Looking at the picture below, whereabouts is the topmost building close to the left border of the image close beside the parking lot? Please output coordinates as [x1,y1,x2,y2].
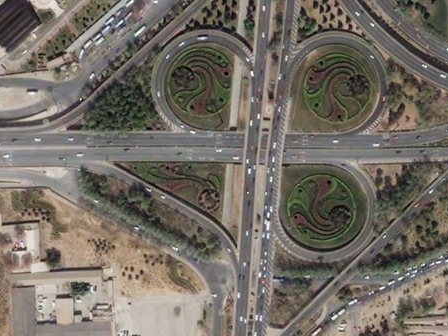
[12,267,103,281]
